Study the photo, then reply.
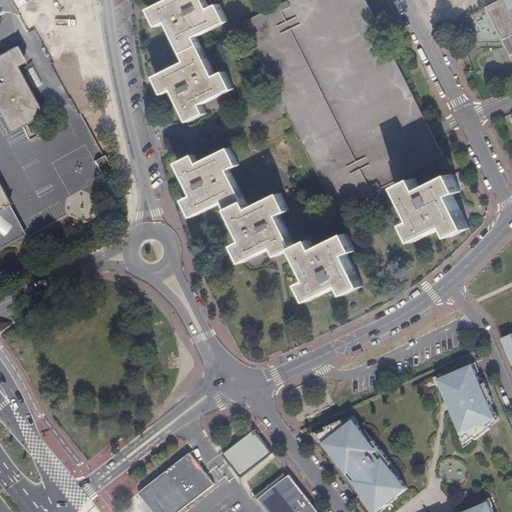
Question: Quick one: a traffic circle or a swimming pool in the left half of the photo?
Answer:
traffic circle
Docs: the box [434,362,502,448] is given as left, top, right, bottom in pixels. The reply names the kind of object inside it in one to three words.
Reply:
house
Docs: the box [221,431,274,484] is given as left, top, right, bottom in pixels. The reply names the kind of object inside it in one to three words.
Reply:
building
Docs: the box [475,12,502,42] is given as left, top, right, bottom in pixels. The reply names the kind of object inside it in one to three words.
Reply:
playground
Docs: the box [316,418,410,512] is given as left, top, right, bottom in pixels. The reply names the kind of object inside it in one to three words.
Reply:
house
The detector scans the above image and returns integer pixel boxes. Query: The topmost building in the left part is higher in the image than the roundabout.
[142,0,228,52]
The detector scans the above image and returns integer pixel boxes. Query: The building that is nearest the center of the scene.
[220,193,292,264]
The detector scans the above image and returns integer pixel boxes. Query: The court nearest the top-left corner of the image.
[52,146,97,194]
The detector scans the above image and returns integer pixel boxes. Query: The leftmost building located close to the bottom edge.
[138,452,215,512]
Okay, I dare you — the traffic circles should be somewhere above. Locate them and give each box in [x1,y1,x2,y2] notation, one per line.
[122,222,180,280]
